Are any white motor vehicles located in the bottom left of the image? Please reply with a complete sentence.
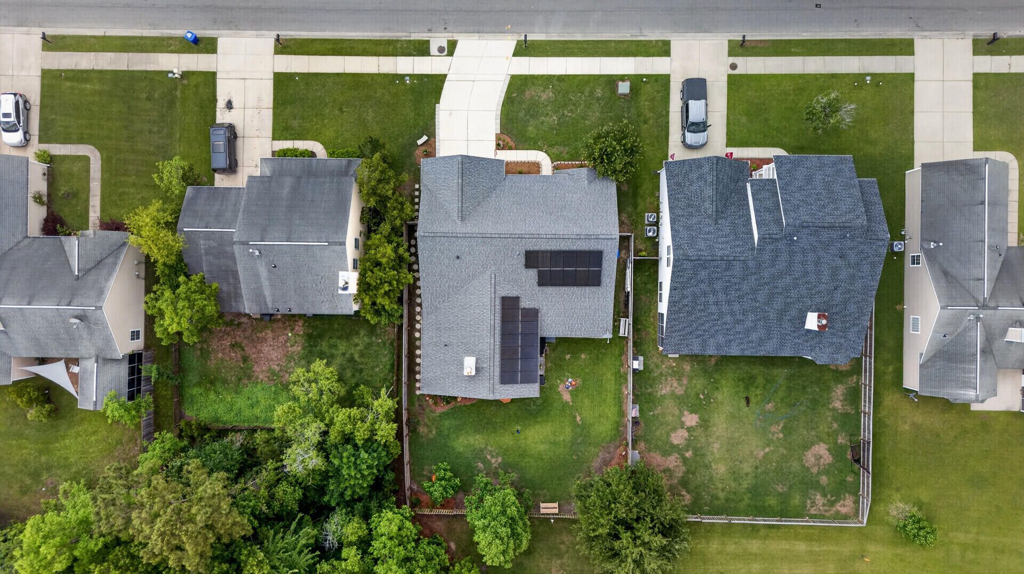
No, looking in the bottom left of the image, there is no white motor vehicle.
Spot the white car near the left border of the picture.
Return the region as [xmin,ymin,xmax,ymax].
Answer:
[1,92,35,147]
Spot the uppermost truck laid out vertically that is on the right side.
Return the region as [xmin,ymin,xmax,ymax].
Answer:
[680,79,711,148]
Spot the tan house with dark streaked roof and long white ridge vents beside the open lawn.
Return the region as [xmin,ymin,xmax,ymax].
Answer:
[902,157,1024,413]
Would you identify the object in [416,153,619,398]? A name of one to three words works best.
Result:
house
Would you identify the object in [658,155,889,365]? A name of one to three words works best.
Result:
house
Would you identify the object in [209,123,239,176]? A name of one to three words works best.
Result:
vehicle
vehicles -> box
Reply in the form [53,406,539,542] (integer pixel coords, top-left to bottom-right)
[1,92,35,147]
[209,123,239,176]
[680,79,711,148]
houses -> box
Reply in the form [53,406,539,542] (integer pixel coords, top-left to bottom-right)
[0,155,145,411]
[658,155,889,365]
[902,157,1024,413]
[177,157,368,314]
[416,153,619,398]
